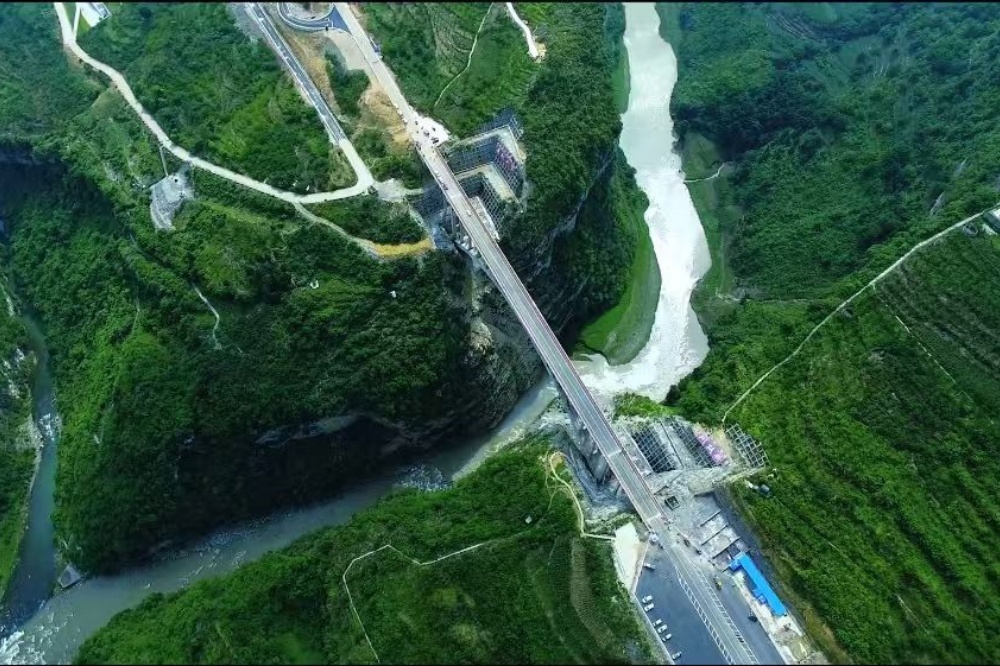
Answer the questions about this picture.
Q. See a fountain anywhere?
No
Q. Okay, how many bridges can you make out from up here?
1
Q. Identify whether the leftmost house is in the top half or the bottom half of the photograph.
top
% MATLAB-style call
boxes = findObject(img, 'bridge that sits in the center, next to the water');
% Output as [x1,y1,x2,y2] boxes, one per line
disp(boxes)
[419,146,667,521]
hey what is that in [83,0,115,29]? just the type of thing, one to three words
house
